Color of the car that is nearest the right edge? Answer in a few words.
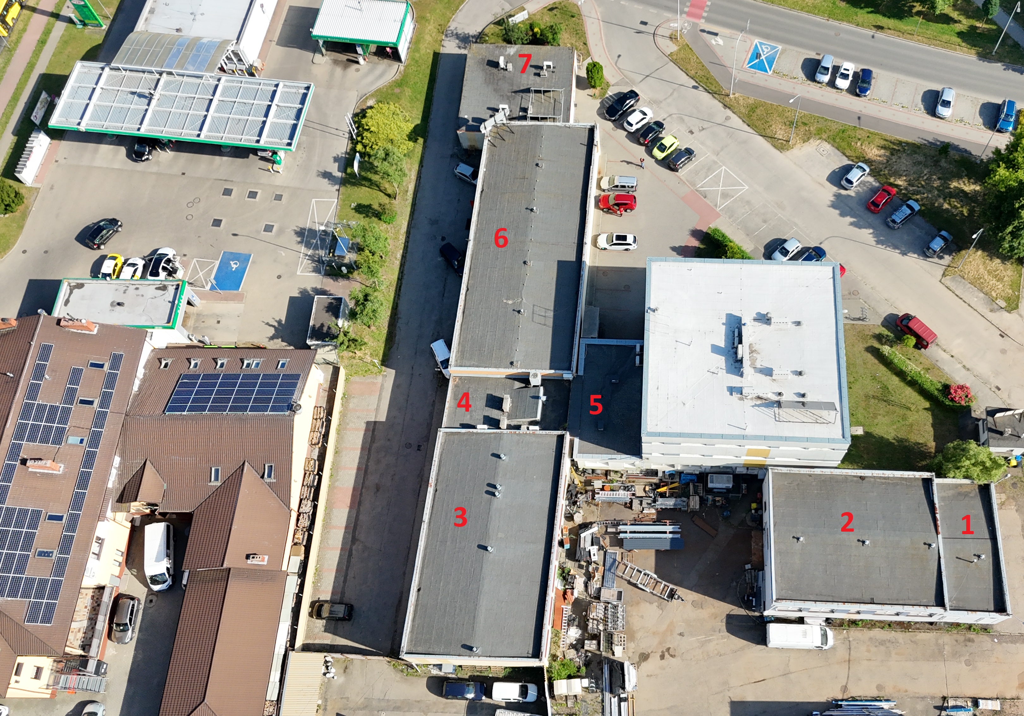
blue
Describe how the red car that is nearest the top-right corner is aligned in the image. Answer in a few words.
at an angle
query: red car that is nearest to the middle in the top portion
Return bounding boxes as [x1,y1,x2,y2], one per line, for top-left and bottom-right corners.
[598,193,637,214]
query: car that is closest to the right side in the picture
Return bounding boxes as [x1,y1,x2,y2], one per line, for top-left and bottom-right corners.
[995,98,1018,133]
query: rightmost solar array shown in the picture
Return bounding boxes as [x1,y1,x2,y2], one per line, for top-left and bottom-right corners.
[164,372,301,412]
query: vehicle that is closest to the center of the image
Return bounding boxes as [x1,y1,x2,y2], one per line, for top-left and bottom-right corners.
[428,338,452,380]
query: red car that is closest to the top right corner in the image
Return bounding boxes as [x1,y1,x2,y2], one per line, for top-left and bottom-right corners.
[863,184,899,216]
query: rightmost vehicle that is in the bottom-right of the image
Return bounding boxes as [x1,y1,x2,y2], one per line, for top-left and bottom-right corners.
[768,624,832,651]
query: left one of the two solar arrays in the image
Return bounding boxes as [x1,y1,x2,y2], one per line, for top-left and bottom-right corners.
[0,343,117,624]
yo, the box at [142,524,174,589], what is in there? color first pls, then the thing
white van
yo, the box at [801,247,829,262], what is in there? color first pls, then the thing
blue car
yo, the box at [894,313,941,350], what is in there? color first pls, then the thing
red van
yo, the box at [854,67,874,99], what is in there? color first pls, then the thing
blue car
